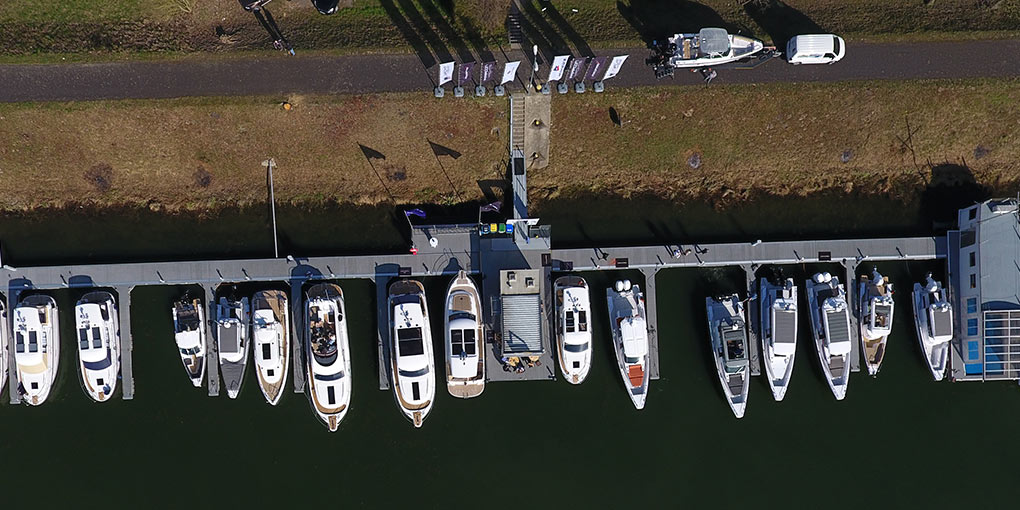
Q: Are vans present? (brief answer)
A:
Yes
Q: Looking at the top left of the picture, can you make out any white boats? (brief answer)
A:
No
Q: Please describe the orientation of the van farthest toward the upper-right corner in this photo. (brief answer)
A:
horizontally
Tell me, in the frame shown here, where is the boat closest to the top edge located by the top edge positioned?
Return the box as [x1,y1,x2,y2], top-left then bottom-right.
[655,24,764,64]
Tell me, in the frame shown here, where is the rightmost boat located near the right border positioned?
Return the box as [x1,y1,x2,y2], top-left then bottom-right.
[944,194,1020,383]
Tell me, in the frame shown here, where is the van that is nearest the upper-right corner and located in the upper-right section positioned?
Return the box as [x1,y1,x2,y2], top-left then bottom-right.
[783,33,845,66]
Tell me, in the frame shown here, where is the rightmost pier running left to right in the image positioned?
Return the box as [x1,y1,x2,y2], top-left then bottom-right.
[552,236,945,381]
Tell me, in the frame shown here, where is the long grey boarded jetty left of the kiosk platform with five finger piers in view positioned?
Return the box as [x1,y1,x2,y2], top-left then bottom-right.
[0,251,481,405]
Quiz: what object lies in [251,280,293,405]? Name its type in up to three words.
boat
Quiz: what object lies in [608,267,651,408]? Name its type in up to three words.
boat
